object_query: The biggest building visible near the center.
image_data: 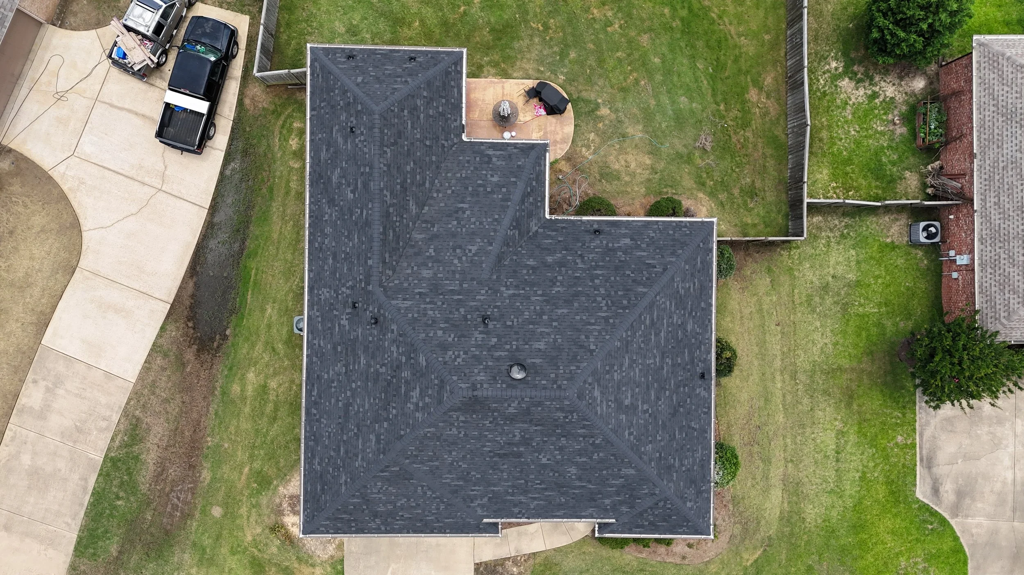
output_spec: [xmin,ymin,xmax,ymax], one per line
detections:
[300,43,718,538]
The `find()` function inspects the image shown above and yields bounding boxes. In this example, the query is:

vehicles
[106,0,200,83]
[152,15,242,157]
